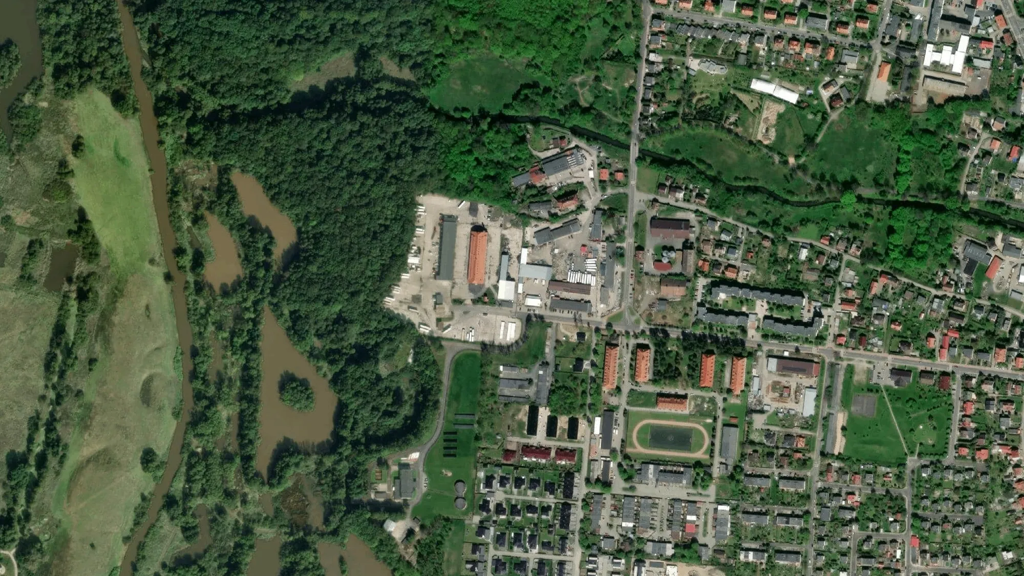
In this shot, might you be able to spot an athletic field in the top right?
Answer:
No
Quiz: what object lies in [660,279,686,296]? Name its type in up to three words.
barn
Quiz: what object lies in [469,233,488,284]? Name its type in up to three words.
building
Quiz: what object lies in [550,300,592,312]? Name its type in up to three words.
building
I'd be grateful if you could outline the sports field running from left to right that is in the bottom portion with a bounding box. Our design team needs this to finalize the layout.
[623,417,712,459]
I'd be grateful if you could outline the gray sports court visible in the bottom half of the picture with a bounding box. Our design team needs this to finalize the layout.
[853,394,876,415]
